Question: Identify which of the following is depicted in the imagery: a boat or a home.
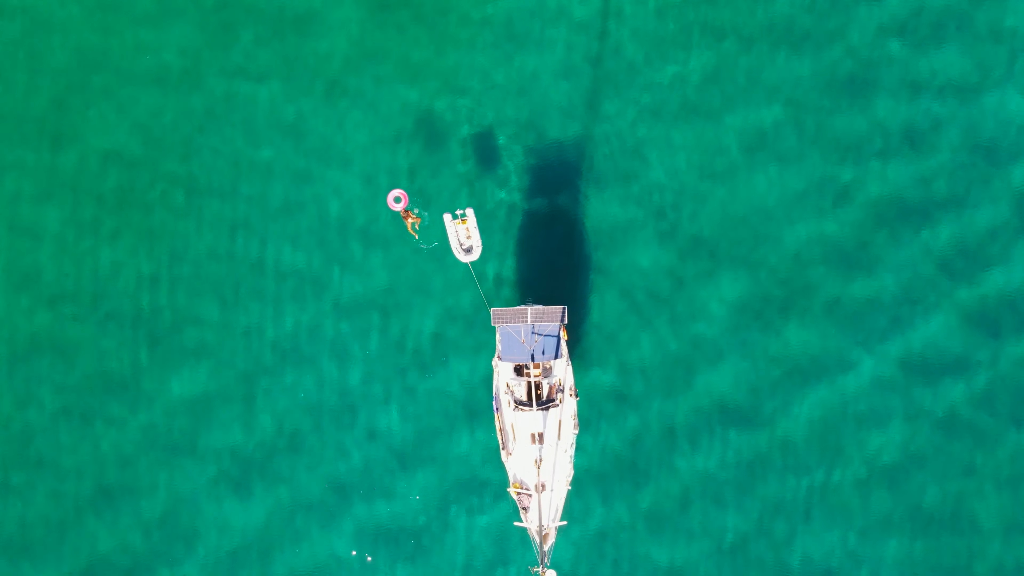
boat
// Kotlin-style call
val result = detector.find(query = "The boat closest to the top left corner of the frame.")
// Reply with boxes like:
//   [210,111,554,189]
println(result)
[443,205,481,263]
